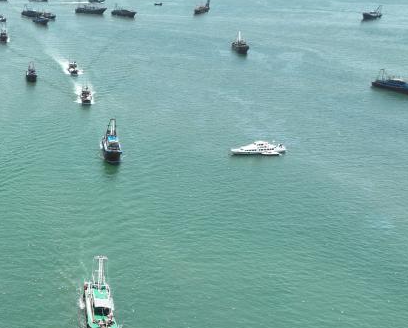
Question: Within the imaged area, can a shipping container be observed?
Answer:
No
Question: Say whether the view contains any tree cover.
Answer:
No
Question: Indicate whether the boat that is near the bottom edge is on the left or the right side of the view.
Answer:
left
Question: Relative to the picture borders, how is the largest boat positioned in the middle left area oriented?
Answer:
from top to bottom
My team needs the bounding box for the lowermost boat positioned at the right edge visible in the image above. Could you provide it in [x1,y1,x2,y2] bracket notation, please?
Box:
[366,63,408,93]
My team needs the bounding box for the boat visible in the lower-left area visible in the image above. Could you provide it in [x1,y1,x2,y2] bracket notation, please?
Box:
[82,258,115,328]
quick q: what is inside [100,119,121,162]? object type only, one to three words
boat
